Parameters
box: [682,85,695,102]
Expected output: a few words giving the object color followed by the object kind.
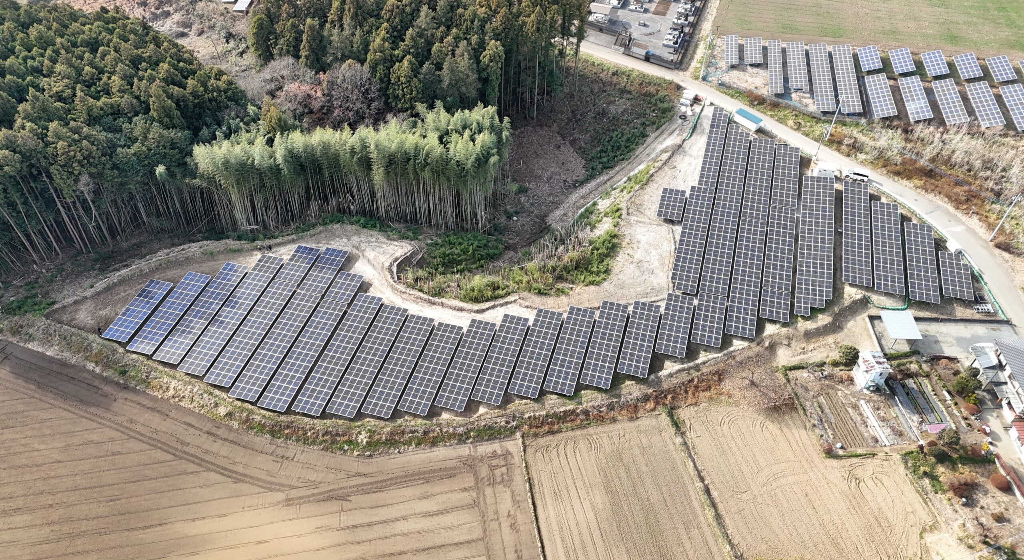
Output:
white vehicle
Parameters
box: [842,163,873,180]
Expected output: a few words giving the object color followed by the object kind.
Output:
white vehicle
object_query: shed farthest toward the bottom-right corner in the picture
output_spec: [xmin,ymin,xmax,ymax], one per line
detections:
[995,422,1024,480]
